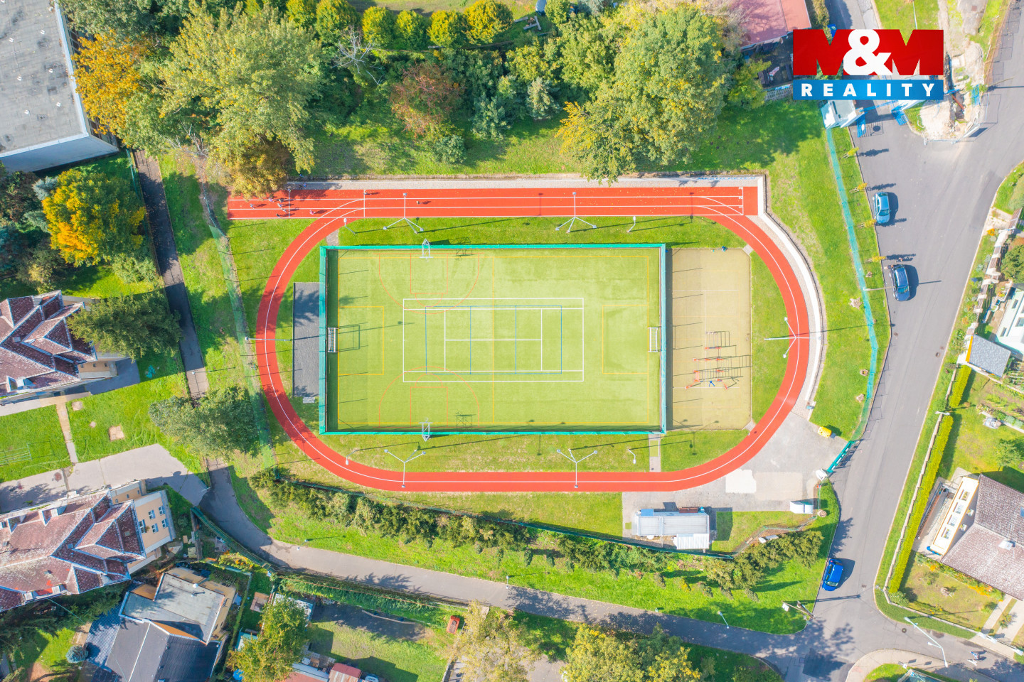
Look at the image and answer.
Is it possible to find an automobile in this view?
Yes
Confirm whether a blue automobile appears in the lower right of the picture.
Yes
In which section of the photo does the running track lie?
center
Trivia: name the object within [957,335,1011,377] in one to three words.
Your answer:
building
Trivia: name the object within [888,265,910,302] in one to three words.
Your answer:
car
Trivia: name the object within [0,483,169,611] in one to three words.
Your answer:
house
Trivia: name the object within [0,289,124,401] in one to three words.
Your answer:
house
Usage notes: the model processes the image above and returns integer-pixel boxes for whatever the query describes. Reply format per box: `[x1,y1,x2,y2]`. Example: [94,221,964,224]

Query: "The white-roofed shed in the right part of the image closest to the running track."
[632,509,709,537]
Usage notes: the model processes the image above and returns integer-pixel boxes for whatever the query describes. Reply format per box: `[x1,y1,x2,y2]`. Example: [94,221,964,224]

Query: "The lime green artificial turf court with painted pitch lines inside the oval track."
[327,248,661,431]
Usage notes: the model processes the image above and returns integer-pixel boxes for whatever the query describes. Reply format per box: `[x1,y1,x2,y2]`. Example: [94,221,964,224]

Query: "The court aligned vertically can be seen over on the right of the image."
[667,248,752,430]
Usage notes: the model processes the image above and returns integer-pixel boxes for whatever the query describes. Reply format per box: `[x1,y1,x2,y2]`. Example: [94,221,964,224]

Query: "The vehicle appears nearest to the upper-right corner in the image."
[872,191,891,225]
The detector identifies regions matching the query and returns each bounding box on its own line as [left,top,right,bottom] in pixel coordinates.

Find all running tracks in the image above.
[227,186,809,492]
